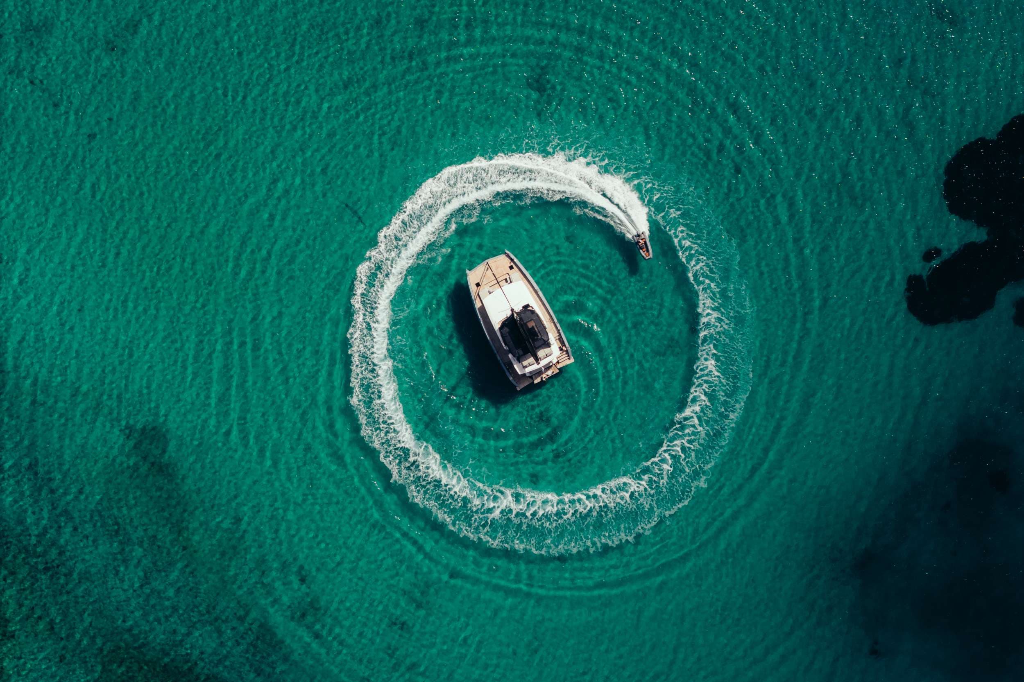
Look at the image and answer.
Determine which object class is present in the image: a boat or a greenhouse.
boat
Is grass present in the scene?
No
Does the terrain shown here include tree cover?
No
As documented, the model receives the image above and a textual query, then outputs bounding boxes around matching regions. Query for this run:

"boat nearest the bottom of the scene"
[466,249,574,389]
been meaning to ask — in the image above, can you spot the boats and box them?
[466,249,574,389]
[633,231,653,260]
